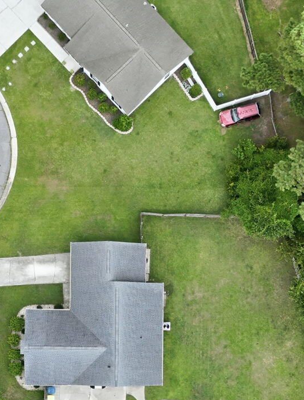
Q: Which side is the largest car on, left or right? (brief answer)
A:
right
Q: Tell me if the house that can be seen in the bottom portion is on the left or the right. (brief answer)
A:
left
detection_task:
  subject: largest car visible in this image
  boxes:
[218,102,261,128]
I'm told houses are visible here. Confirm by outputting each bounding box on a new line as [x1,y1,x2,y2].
[21,240,165,389]
[34,0,193,118]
